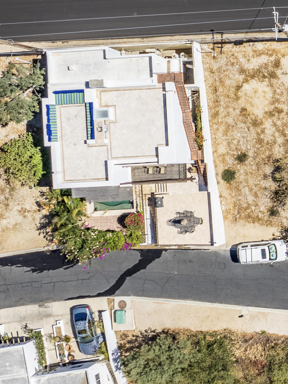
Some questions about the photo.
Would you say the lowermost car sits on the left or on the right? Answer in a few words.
left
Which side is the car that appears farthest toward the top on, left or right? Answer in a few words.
right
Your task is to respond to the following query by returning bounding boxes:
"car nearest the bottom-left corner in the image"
[74,305,102,354]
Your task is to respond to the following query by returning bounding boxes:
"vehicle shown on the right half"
[237,239,288,263]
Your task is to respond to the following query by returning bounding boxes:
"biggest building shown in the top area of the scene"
[41,47,208,203]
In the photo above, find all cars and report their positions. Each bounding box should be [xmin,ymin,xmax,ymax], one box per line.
[74,305,102,354]
[237,239,288,263]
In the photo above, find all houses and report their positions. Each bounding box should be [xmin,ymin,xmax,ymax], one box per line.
[0,319,118,384]
[41,47,208,203]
